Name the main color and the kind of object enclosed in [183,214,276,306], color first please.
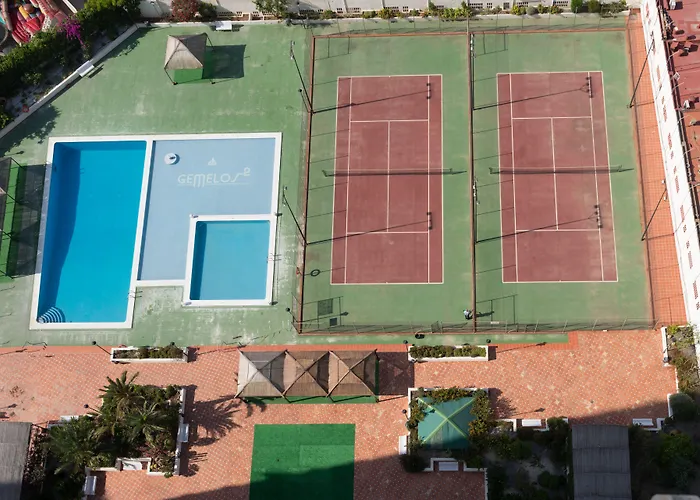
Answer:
blue swimming pool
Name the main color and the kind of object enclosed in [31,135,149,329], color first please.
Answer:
blue swimming pool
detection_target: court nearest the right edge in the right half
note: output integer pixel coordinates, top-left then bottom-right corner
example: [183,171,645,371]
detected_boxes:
[472,29,651,330]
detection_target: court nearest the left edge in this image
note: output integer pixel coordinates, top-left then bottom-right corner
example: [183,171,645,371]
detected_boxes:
[300,34,473,332]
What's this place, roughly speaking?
sports ground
